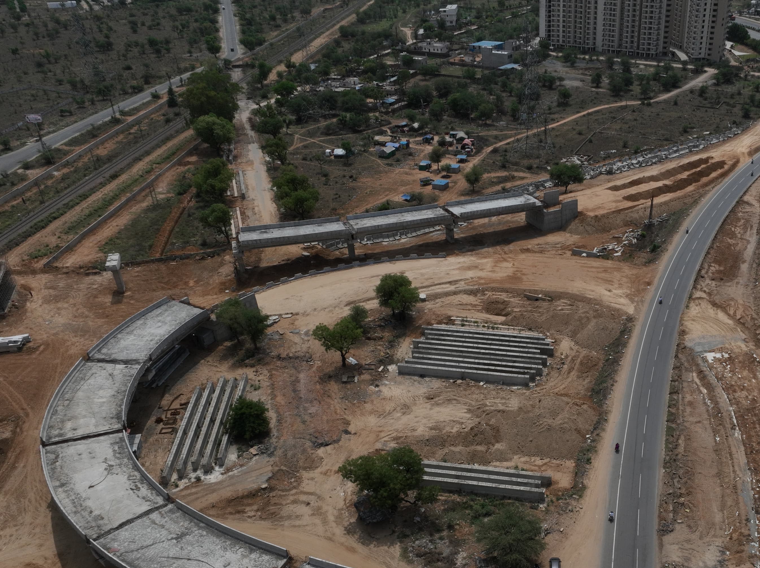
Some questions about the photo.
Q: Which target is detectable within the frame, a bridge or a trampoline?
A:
bridge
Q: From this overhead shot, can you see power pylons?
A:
Yes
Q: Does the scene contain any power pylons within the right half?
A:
Yes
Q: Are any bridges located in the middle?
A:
Yes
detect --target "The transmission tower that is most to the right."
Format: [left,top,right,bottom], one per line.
[512,30,554,165]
